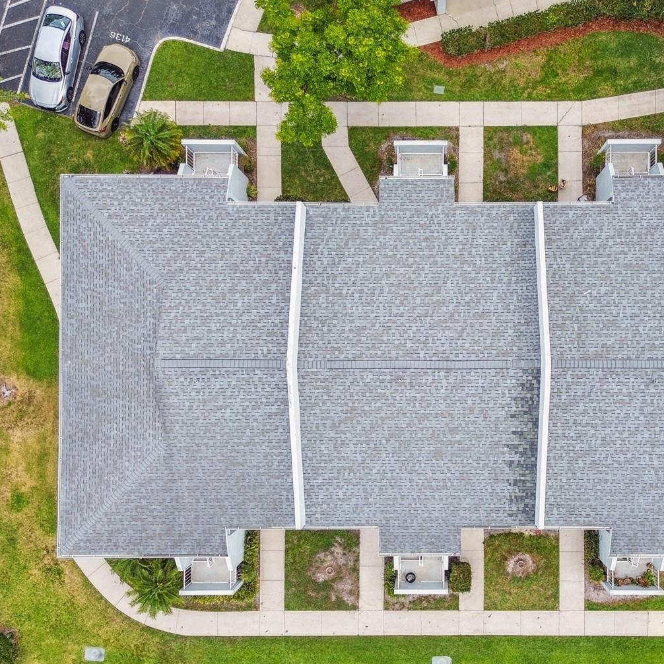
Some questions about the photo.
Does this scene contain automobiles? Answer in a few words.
Yes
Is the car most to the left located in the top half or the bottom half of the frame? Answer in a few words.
top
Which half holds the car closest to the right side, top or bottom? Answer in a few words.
top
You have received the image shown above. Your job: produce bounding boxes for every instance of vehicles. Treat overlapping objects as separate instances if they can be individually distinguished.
[69,41,140,139]
[22,3,86,112]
